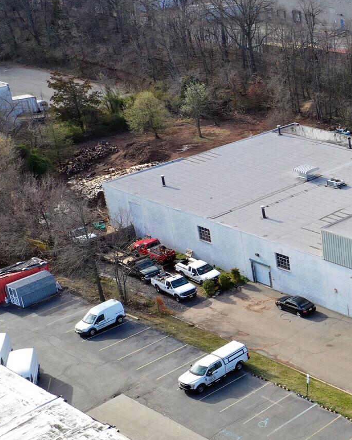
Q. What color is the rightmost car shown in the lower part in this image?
black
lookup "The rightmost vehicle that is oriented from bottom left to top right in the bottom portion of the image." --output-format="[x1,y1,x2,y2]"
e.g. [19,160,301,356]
[173,338,249,394]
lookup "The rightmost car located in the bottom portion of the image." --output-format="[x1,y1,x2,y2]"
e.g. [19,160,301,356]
[273,294,316,316]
